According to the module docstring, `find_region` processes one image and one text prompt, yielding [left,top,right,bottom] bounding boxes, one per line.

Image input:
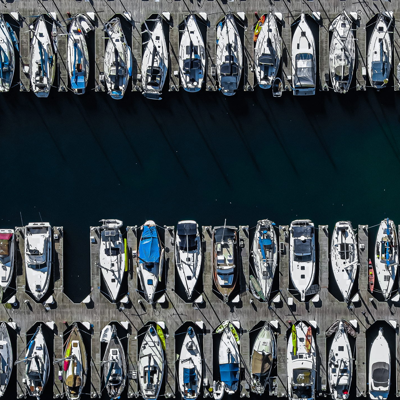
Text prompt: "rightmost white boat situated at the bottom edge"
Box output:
[365,328,396,400]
